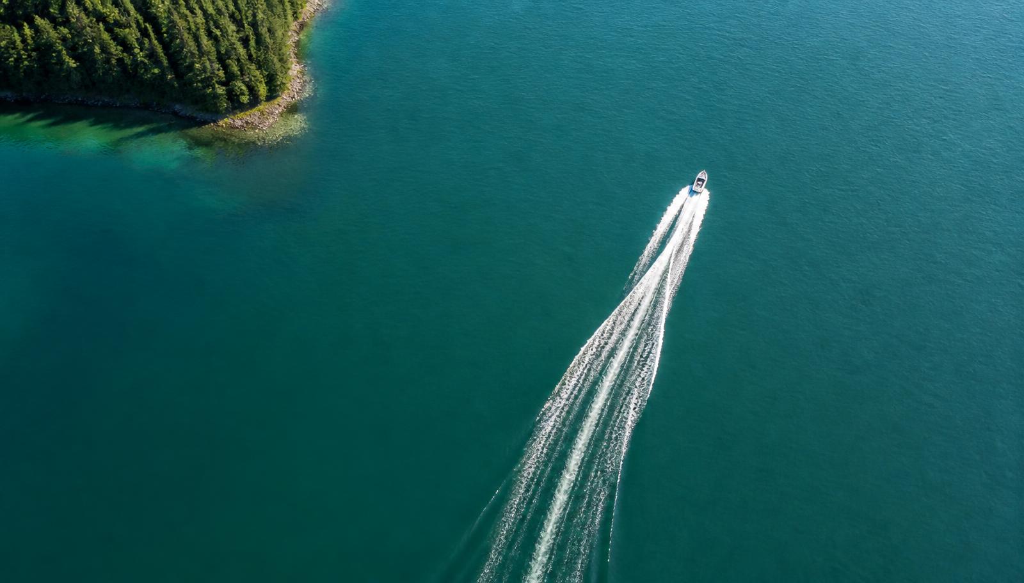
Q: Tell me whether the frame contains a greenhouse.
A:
No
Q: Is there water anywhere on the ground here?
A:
Yes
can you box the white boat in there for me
[692,170,707,193]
